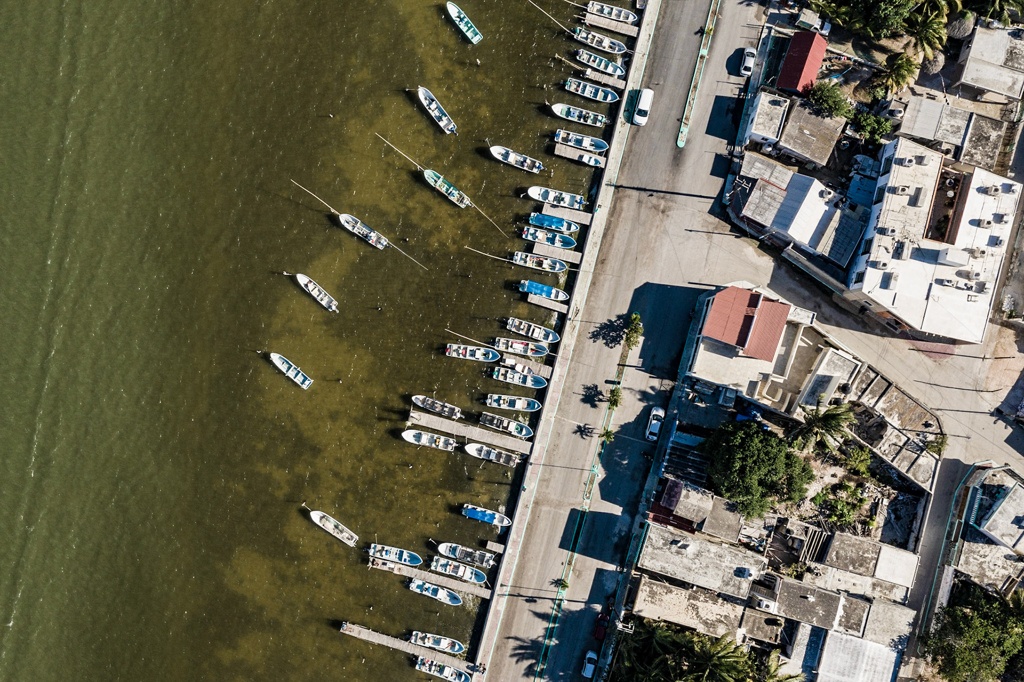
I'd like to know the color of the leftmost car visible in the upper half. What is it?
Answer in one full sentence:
The color of the leftmost car visible in the upper half is white.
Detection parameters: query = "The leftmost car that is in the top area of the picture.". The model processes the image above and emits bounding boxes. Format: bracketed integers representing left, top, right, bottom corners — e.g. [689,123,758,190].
[633,88,653,126]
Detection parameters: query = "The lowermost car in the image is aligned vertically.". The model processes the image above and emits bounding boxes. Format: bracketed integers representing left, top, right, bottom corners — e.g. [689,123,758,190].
[579,648,596,680]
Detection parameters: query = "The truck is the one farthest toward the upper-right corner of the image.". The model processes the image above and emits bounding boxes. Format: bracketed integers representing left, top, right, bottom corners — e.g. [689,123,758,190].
[796,8,831,38]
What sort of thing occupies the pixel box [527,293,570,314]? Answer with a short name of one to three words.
pier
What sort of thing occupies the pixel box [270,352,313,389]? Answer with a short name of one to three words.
boat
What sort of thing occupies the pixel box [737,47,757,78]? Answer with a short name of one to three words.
car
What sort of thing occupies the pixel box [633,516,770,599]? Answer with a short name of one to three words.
house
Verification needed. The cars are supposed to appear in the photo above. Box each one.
[591,611,609,642]
[644,406,664,442]
[579,648,596,680]
[737,47,757,78]
[633,88,653,126]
